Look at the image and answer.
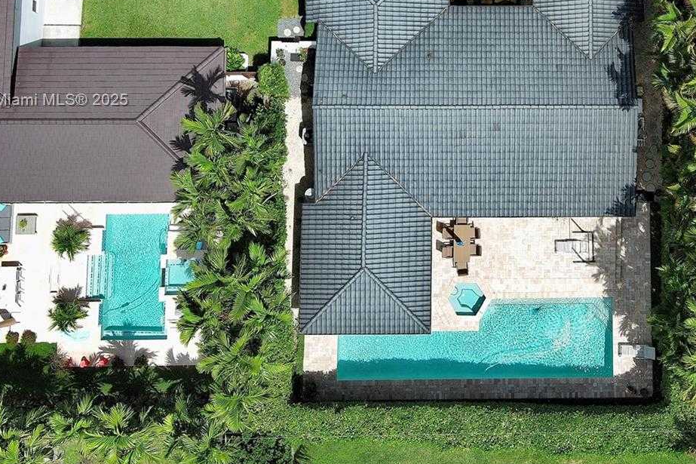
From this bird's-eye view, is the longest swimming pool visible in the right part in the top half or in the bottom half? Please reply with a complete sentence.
The bottom half of the photo is where the longest swimming pool visible in the right part is.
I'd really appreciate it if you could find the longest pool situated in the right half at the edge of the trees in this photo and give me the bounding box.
[332,293,618,385]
